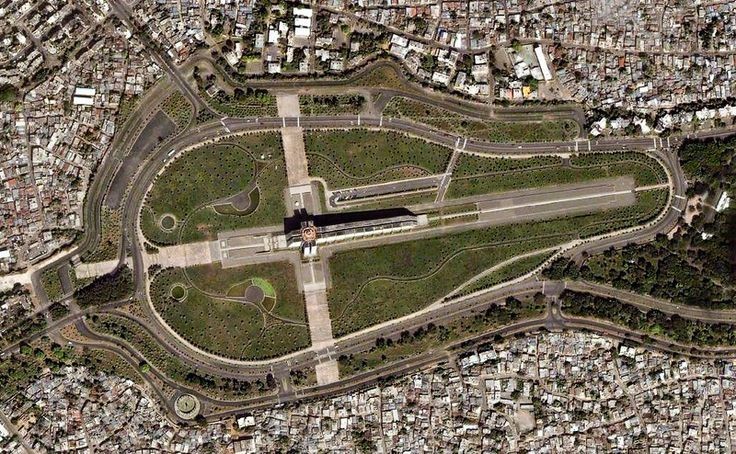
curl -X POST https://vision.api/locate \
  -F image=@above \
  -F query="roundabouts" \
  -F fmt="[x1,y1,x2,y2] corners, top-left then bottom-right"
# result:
[170,389,204,424]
